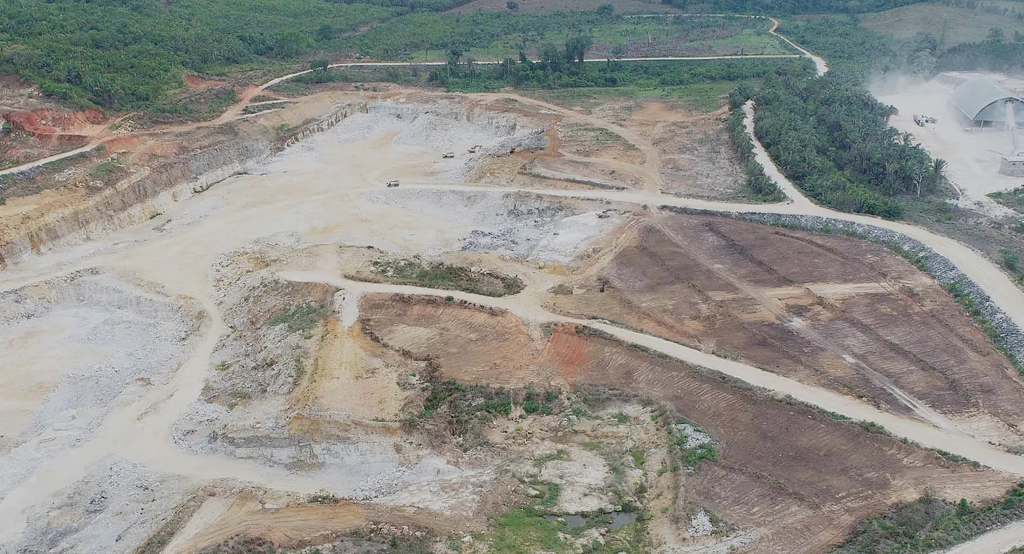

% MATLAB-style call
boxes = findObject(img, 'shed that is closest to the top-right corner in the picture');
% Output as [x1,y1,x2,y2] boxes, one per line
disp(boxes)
[948,77,1024,131]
